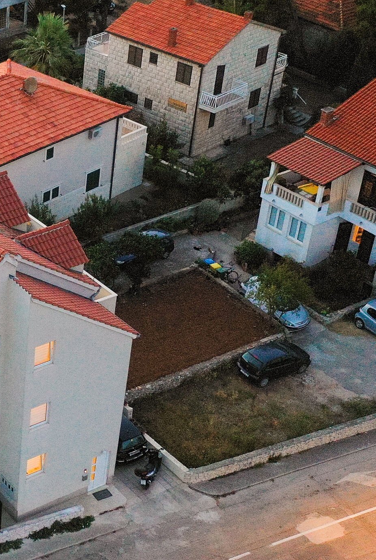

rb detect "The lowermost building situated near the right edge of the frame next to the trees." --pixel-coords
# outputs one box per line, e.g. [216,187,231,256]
[255,75,376,261]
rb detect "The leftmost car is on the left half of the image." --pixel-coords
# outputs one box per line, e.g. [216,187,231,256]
[117,399,146,456]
